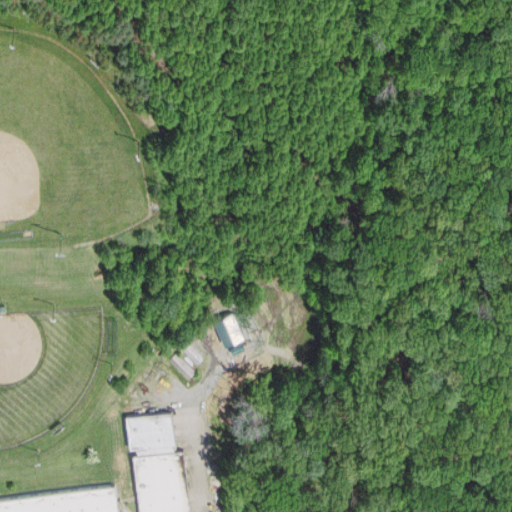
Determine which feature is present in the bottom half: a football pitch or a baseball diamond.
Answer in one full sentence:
What appears in the bottom half is a baseball diamond.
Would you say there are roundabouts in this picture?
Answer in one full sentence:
No, there is no roundabout in the image.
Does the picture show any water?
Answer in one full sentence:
No, there is no water in the image.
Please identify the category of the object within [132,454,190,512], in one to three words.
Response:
building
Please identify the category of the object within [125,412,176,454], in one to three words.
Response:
building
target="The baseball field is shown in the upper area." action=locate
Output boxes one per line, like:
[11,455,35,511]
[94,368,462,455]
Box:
[0,28,152,248]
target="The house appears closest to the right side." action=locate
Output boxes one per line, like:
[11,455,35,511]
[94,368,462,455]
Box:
[216,312,244,355]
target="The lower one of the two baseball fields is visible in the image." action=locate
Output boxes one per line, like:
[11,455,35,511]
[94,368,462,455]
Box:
[0,307,104,449]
